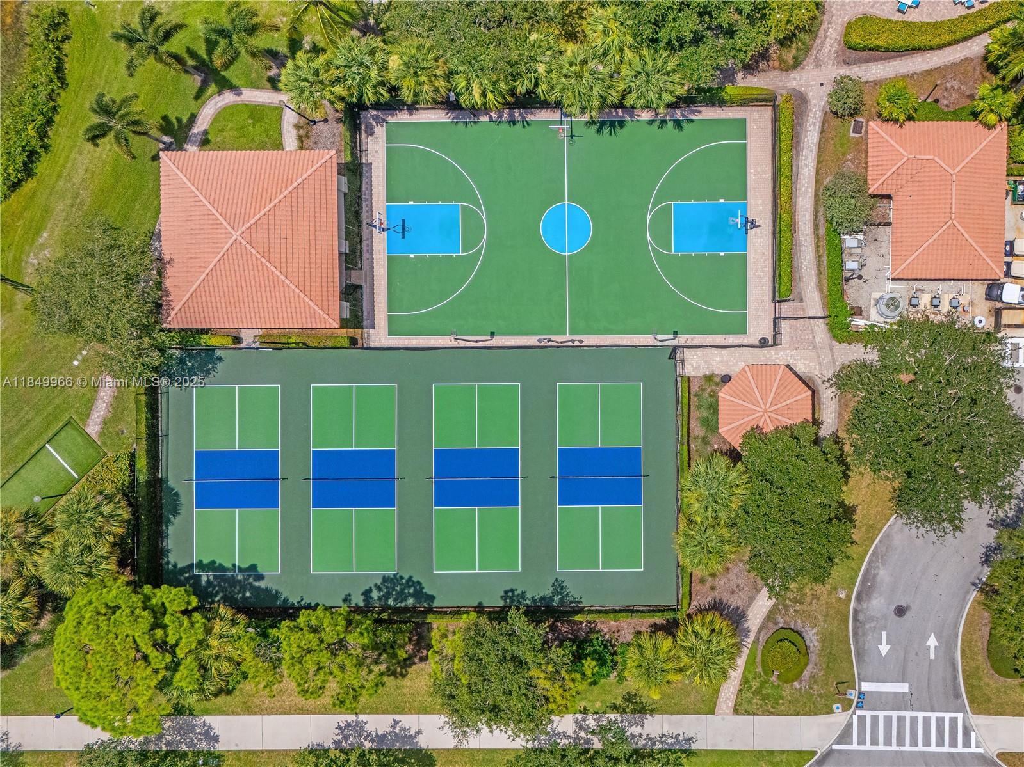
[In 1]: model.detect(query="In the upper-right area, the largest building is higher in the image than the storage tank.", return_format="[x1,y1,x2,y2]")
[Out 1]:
[866,119,1008,281]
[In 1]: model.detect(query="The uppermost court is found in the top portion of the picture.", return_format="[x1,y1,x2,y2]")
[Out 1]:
[385,118,747,336]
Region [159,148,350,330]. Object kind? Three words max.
building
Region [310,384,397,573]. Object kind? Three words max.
sports court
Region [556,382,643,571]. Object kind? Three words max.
sports court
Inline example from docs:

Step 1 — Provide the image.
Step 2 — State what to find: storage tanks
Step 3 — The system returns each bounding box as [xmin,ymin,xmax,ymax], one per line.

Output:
[872,292,904,320]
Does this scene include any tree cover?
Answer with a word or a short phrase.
Yes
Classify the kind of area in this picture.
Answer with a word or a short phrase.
sports ground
